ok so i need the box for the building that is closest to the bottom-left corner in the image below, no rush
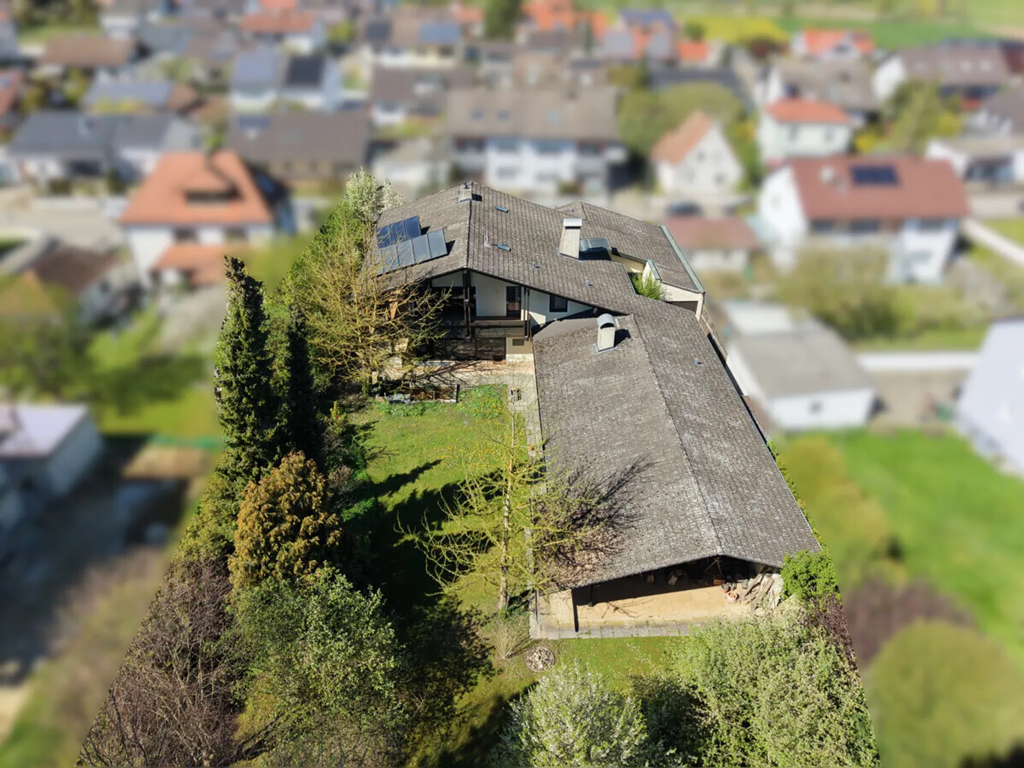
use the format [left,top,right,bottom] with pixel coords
[0,399,104,511]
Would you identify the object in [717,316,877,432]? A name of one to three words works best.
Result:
building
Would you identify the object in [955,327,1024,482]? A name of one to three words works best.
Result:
house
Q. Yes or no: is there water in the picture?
No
